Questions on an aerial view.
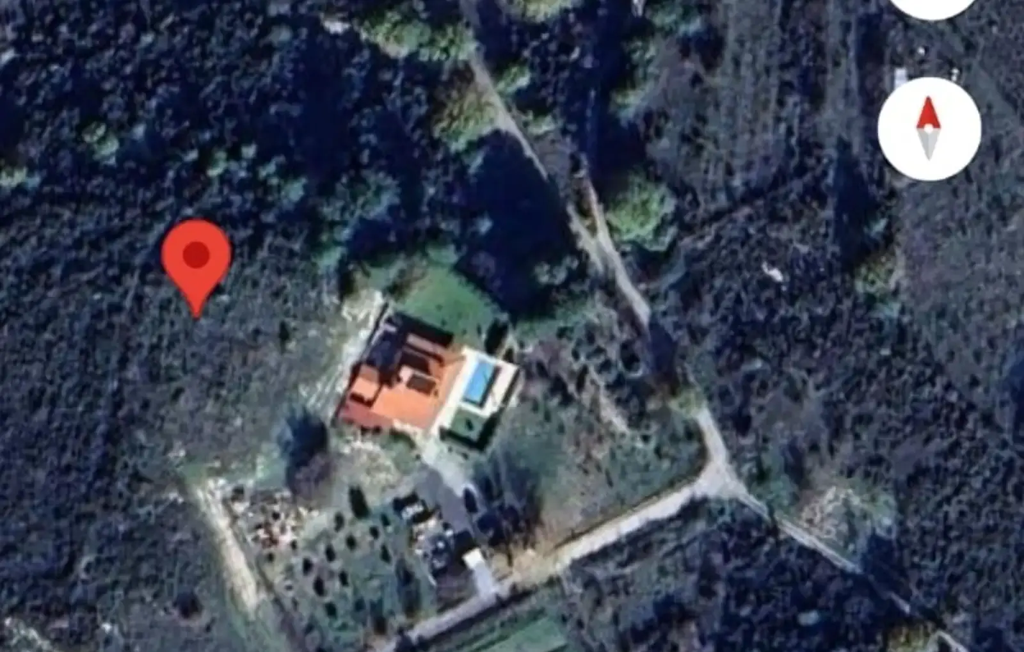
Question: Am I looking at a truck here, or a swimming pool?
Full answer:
I can see a swimming pool in this picture.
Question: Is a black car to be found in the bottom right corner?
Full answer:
No, no black car is visible in the bottom right corner.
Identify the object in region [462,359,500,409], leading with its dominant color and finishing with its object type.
blue swimming pool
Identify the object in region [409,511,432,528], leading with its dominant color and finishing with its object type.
black car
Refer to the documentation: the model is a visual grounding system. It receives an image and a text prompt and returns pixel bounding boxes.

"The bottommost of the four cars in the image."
[436,537,452,561]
